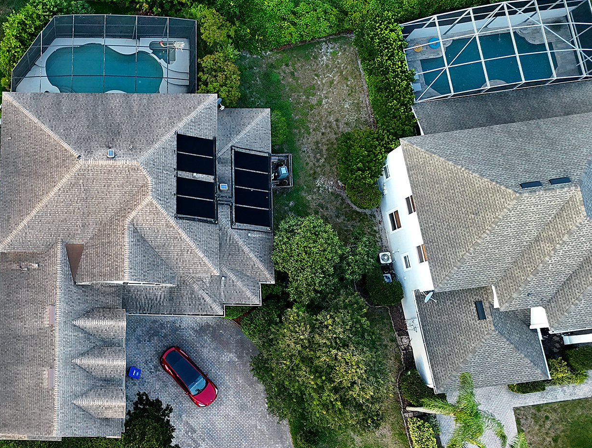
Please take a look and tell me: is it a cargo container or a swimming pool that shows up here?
swimming pool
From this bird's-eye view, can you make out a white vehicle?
No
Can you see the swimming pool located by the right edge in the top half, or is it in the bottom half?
top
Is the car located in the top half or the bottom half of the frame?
bottom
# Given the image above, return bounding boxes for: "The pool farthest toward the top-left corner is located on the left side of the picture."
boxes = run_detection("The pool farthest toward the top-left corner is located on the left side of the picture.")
[17,35,192,94]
